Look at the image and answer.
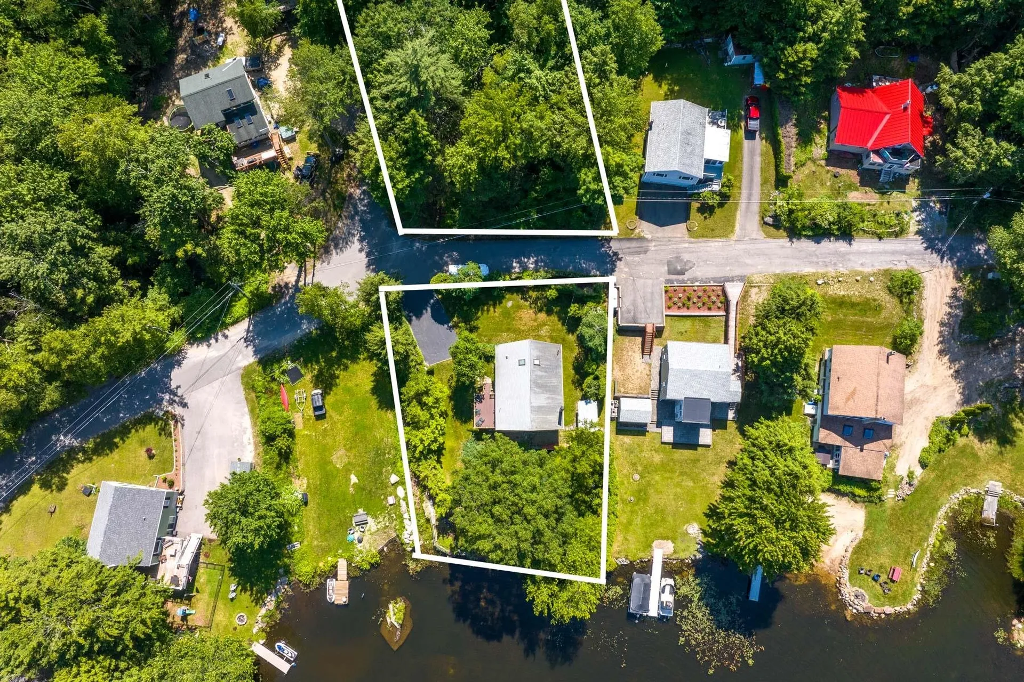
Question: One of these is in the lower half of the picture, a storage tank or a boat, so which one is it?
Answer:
boat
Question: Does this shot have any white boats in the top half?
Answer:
No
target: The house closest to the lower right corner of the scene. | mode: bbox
[801,345,906,481]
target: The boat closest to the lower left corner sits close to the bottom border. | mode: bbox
[274,645,297,662]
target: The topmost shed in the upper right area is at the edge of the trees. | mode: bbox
[729,33,763,65]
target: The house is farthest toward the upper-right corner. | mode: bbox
[827,79,934,184]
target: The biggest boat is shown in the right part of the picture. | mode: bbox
[630,571,652,623]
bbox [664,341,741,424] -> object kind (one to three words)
house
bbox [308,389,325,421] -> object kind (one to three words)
car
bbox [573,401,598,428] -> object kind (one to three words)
shed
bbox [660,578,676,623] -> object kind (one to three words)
boat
